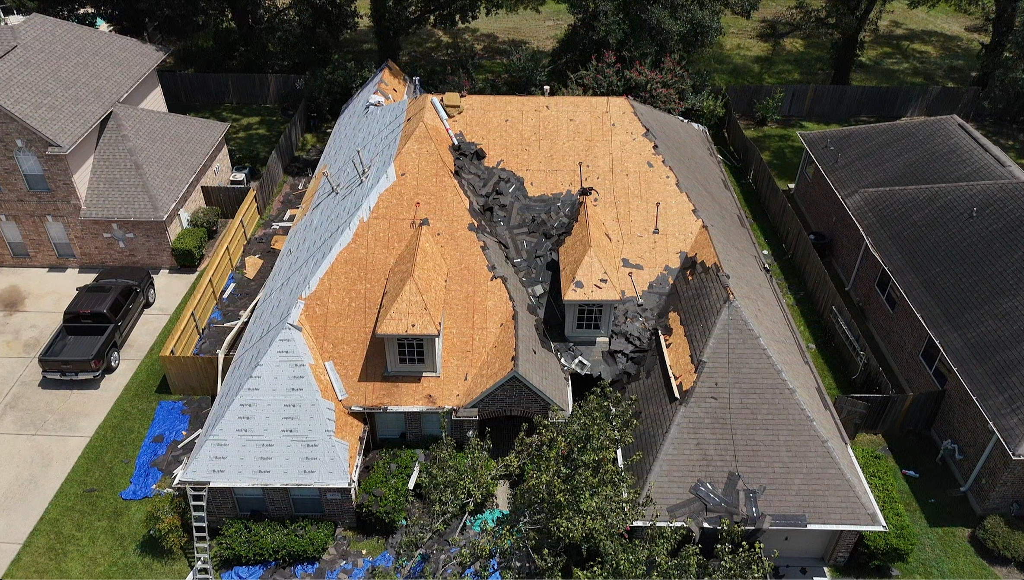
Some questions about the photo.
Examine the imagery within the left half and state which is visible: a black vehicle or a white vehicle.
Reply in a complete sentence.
There is a black vehicle within the left half.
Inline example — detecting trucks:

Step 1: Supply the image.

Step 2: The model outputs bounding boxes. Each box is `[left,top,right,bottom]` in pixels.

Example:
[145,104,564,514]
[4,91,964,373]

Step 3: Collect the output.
[36,268,164,384]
